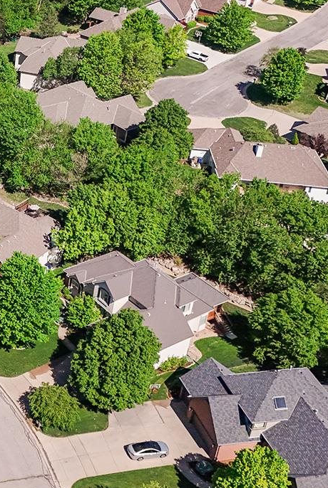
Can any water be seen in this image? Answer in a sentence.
No, the scene doesn't show any water.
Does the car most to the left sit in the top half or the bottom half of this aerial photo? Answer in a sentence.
The car most to the left is in the bottom half of the image.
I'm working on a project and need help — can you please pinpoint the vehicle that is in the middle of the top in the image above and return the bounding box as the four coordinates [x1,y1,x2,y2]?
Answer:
[184,47,212,61]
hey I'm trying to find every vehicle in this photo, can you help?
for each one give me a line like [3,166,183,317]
[127,437,174,460]
[184,47,212,61]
